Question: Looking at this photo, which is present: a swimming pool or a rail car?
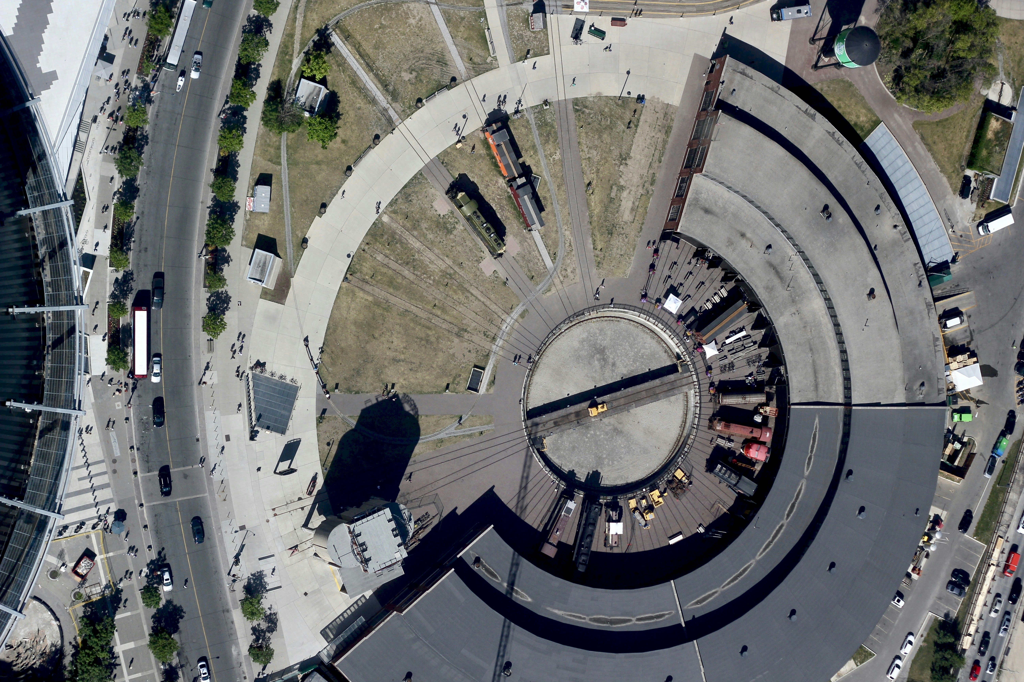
rail car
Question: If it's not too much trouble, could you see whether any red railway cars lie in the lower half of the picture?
Yes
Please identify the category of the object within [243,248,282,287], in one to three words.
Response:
building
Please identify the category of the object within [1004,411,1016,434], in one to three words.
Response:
vehicle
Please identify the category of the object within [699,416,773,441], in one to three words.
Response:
rail car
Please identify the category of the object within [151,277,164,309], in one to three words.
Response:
vehicle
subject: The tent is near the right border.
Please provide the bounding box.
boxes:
[949,363,983,392]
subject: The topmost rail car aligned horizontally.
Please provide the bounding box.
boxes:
[704,391,766,406]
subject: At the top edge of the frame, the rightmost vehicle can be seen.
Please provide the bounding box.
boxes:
[767,5,811,23]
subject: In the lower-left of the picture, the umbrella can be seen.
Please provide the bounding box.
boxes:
[111,520,125,536]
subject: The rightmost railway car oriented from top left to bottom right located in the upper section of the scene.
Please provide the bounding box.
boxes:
[446,186,507,259]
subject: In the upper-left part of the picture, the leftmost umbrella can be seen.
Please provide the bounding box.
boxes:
[91,56,114,80]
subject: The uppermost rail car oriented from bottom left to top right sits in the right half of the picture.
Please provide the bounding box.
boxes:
[680,299,748,352]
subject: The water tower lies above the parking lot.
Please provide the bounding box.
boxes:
[809,26,882,71]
